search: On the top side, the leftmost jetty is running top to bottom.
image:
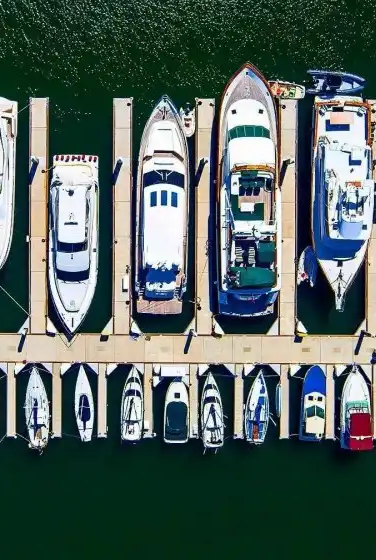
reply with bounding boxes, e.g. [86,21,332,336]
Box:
[16,94,61,333]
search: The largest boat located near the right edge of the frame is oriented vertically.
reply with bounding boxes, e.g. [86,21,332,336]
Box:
[298,94,375,313]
